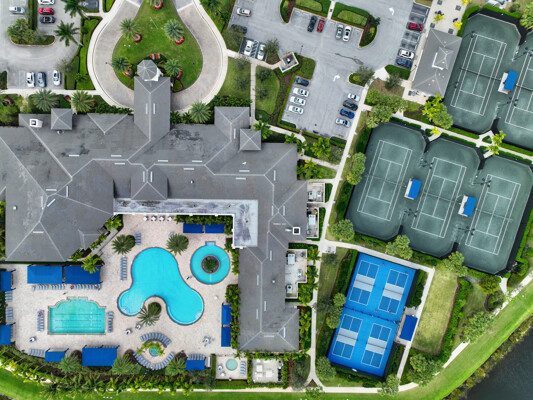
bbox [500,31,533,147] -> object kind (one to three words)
tennis court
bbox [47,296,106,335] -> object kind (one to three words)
swimming pool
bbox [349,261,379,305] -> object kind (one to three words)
sports court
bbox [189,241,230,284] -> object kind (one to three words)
swimming pool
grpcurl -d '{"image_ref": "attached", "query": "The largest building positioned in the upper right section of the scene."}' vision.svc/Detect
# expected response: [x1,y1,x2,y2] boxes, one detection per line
[409,28,462,99]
